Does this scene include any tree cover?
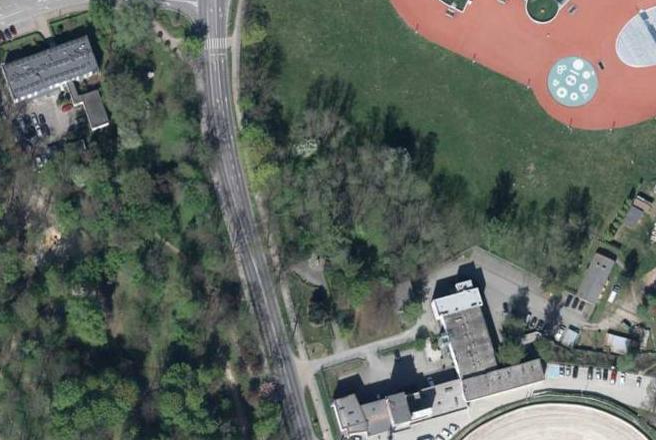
Yes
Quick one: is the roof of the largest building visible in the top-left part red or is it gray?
gray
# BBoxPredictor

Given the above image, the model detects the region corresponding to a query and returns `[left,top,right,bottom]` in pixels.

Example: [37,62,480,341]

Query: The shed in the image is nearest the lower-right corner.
[606,334,628,355]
